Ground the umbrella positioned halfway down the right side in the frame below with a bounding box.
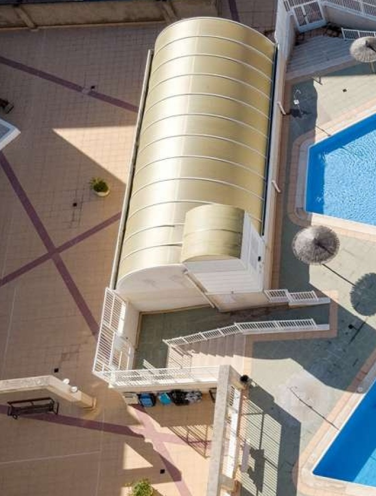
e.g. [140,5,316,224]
[296,228,345,270]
